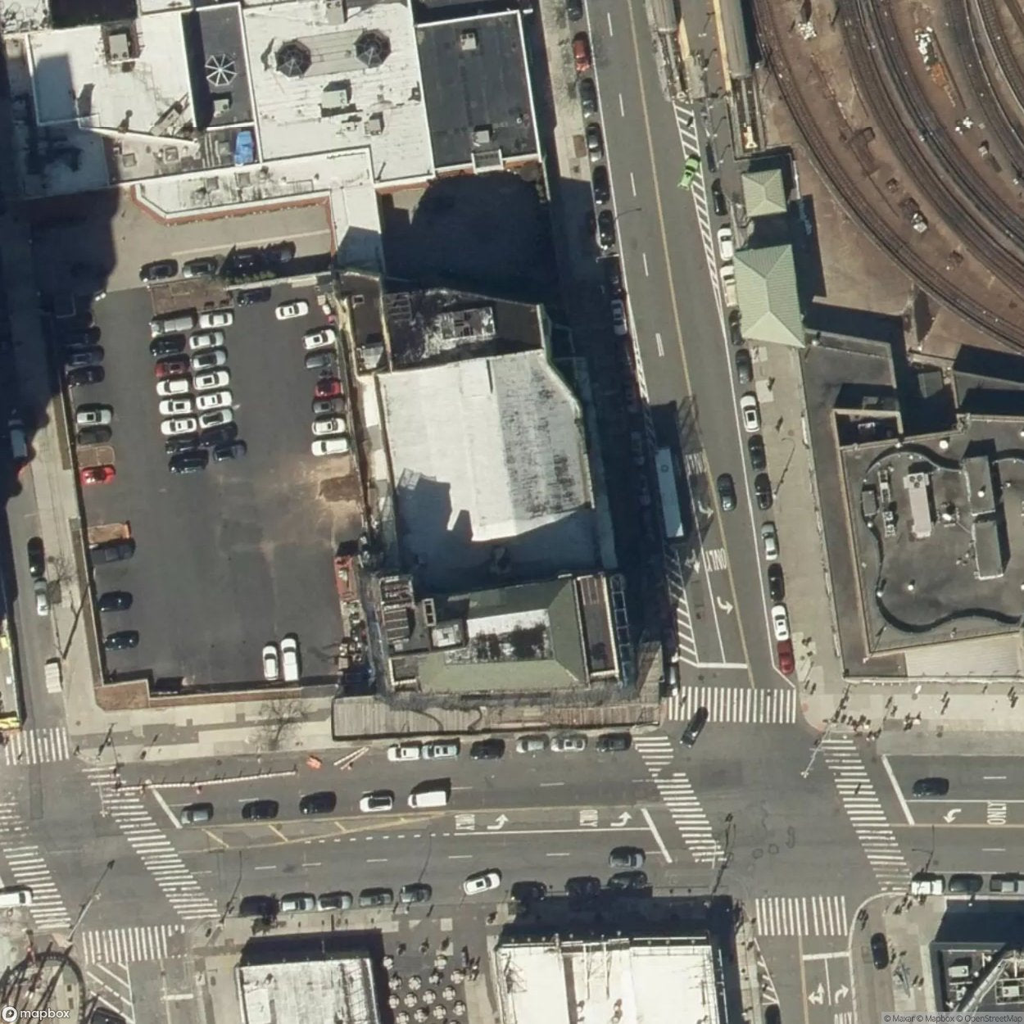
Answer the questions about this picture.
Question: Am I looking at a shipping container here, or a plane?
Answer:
shipping container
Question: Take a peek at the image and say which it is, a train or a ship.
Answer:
train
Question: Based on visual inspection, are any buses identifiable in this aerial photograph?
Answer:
Yes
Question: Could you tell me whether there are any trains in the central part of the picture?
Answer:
No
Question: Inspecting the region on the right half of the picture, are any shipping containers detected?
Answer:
No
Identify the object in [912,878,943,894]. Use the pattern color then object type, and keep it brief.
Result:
white car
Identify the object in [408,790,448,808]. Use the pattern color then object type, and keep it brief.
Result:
white vehicle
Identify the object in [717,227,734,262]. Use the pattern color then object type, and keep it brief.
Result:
white car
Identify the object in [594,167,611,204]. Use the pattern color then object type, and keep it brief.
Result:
black car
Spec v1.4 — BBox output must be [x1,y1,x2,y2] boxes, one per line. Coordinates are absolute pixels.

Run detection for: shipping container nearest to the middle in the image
[334,554,359,602]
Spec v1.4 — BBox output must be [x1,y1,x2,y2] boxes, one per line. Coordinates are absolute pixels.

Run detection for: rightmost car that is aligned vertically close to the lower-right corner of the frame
[870,933,888,970]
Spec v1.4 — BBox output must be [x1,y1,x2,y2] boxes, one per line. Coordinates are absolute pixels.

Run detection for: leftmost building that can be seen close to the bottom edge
[237,955,380,1024]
